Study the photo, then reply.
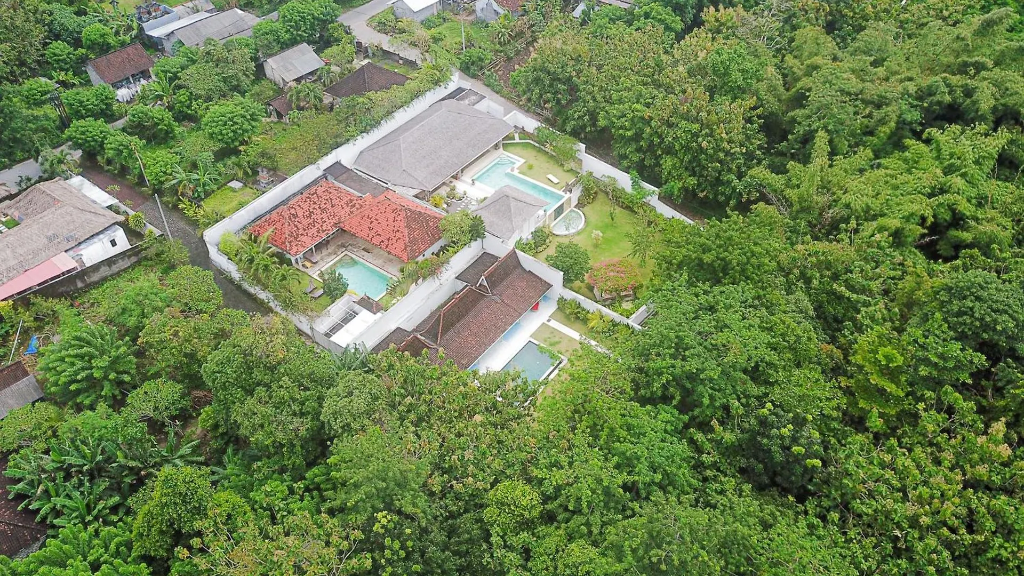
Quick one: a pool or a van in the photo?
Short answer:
pool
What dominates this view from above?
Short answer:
trees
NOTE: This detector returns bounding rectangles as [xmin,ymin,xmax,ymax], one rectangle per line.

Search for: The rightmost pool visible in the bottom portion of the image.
[491,336,576,399]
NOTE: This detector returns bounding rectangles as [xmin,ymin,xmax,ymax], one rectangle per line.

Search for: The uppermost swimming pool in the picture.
[465,152,571,215]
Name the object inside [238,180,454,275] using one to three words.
house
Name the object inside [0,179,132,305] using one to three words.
house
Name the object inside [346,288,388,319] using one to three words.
building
